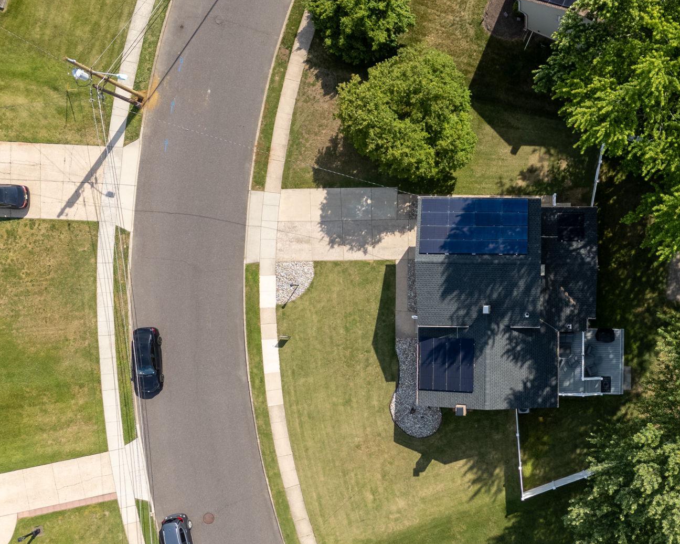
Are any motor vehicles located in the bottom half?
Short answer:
Yes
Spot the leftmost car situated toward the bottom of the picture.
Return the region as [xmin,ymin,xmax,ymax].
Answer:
[130,328,167,396]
